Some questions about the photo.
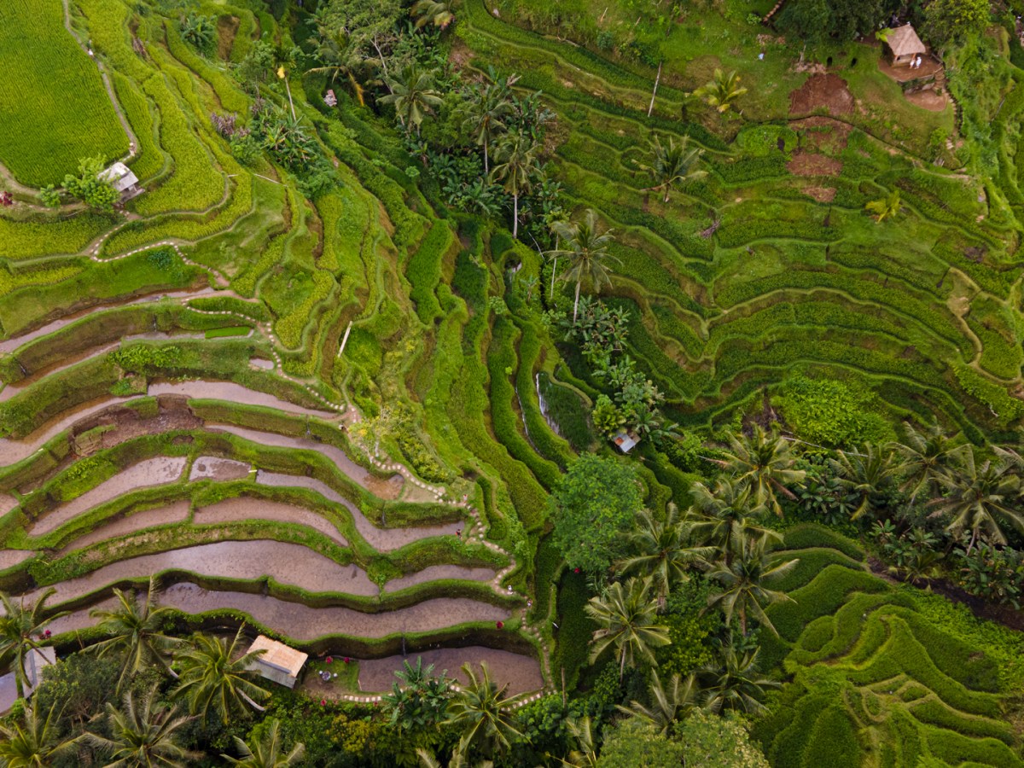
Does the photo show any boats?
No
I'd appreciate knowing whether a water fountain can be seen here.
No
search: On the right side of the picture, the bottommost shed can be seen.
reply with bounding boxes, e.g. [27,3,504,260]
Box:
[613,432,649,459]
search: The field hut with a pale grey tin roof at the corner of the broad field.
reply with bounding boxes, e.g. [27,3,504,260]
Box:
[104,167,147,203]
